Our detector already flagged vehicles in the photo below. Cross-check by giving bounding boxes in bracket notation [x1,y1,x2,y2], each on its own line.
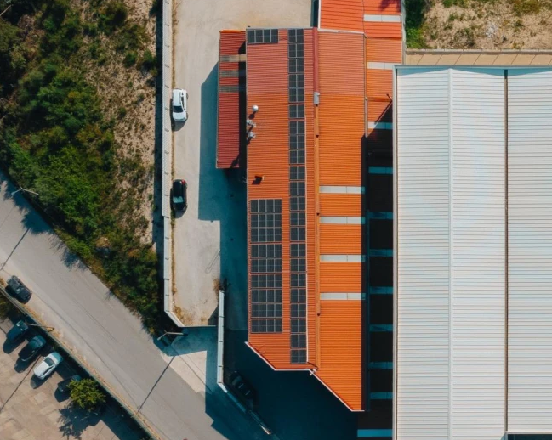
[1,319,32,351]
[2,274,34,304]
[16,332,49,365]
[33,350,64,382]
[170,181,187,213]
[171,89,188,121]
[54,371,85,402]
